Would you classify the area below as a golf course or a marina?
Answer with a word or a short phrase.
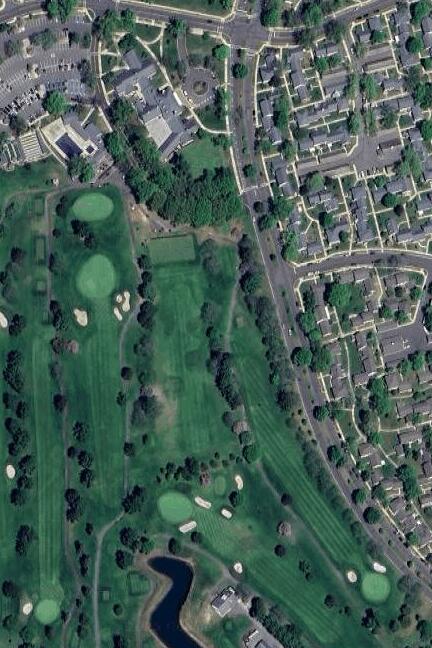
golf course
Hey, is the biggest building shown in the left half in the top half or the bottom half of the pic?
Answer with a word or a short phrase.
top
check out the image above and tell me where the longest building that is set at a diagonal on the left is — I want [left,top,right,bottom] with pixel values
[116,49,200,161]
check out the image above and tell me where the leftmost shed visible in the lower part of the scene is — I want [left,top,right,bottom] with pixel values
[212,588,235,617]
